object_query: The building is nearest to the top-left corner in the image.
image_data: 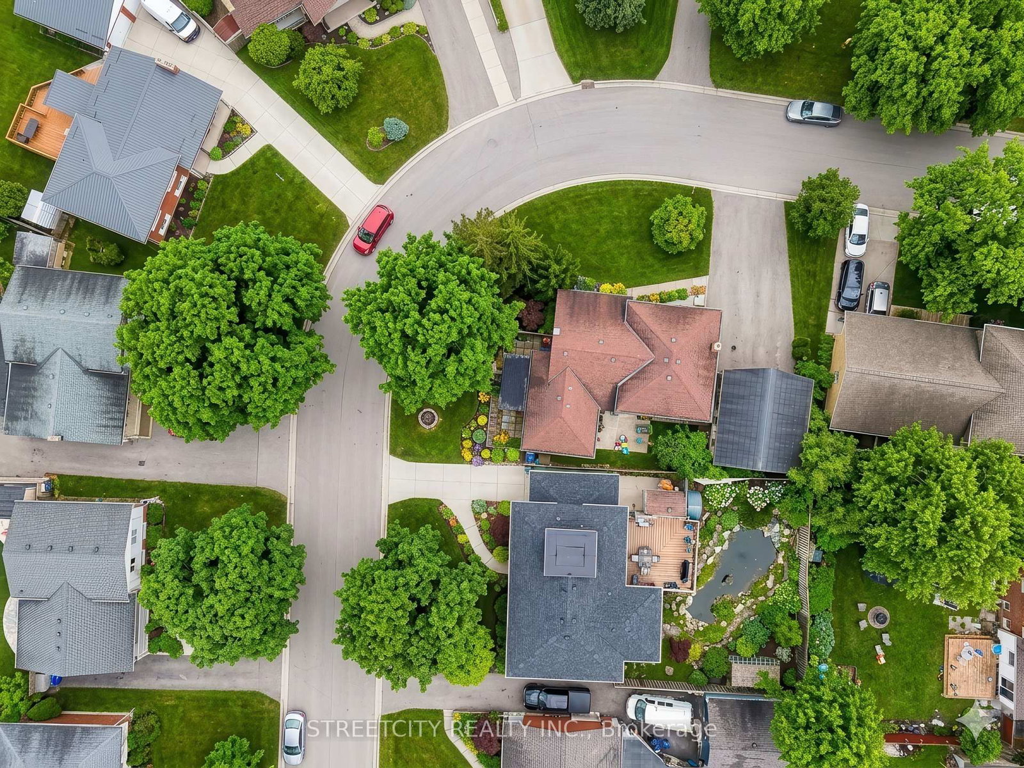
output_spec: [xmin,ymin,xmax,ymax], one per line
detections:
[12,0,138,53]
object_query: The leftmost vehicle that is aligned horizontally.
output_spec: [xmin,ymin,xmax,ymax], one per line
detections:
[523,683,591,713]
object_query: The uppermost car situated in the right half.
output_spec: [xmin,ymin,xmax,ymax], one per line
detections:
[785,98,841,127]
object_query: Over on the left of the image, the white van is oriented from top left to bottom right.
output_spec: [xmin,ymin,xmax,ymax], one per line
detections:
[133,0,203,47]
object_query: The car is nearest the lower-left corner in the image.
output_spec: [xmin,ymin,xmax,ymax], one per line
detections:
[280,708,308,765]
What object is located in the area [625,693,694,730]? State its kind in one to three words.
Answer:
van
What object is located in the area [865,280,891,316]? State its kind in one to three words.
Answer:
car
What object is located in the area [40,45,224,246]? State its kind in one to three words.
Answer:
house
